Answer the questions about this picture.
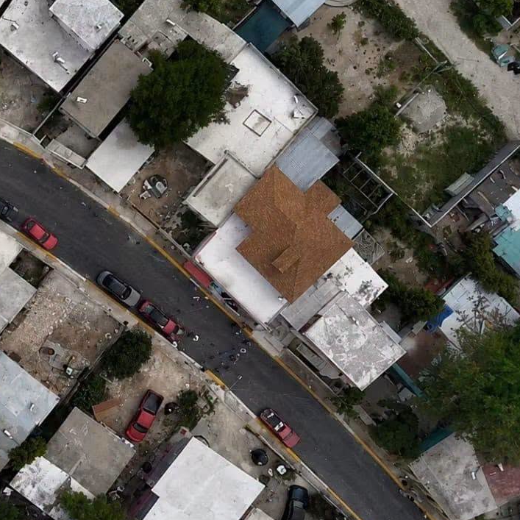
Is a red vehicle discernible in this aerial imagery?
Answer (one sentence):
Yes, the picture does show a red vehicle.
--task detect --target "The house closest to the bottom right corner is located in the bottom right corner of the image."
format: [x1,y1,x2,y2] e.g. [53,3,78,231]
[396,426,520,520]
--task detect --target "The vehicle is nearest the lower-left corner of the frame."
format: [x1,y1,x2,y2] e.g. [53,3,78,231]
[127,388,163,443]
